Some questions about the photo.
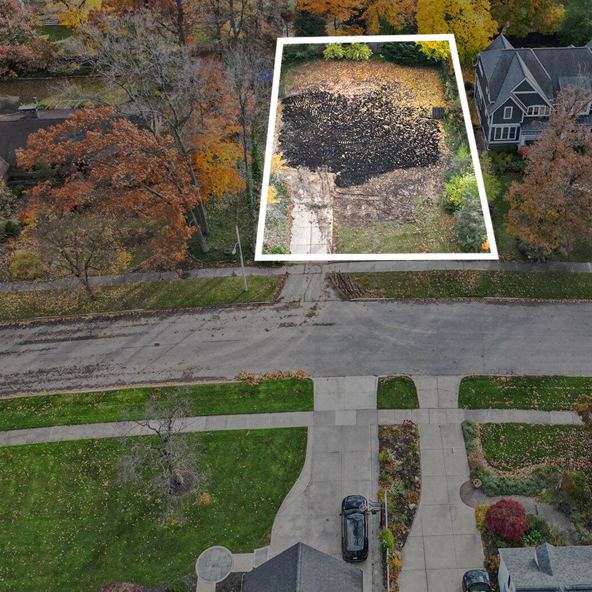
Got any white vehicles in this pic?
No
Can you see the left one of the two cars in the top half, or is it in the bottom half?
bottom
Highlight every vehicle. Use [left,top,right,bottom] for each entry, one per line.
[341,496,370,564]
[463,559,496,592]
